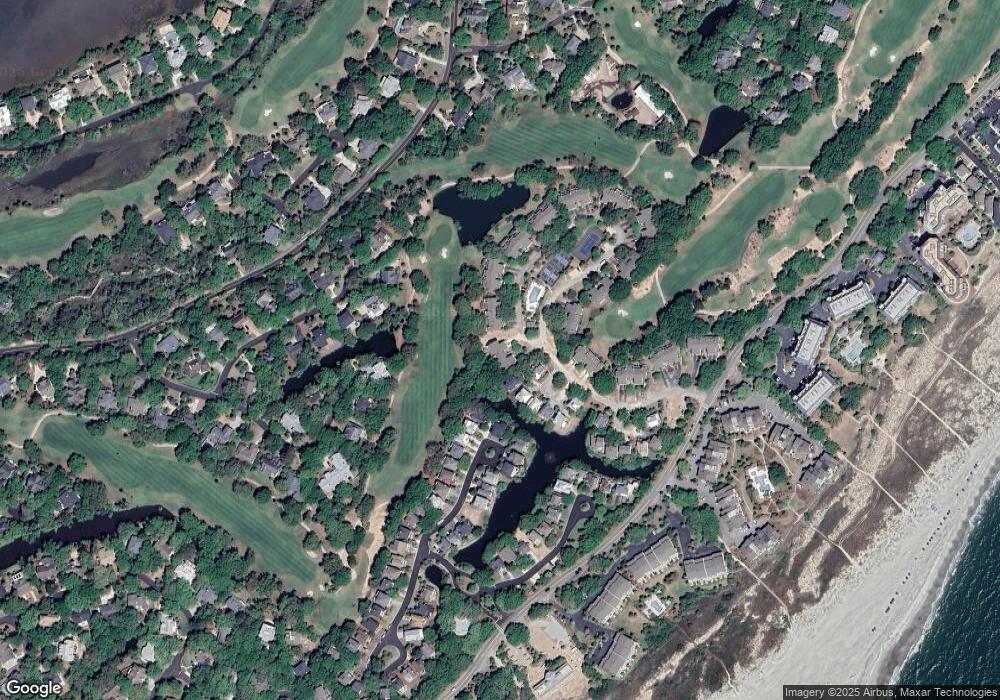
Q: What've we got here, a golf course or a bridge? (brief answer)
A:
golf course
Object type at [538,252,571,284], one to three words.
sports court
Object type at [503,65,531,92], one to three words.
house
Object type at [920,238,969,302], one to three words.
building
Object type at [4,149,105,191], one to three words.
pond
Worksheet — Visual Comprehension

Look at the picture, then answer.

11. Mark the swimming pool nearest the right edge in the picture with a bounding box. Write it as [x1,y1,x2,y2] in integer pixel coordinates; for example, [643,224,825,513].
[959,226,979,246]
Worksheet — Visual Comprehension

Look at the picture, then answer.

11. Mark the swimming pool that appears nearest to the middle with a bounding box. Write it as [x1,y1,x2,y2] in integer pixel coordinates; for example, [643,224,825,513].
[527,282,545,311]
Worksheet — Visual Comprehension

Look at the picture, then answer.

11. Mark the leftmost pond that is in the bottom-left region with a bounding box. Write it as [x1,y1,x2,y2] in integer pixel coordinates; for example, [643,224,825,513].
[0,505,174,556]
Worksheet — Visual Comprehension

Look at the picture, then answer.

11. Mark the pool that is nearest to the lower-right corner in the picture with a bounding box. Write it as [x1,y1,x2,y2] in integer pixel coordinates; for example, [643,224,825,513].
[749,467,773,498]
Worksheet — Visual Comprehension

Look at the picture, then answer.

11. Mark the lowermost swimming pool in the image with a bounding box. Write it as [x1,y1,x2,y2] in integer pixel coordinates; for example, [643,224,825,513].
[644,594,667,618]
